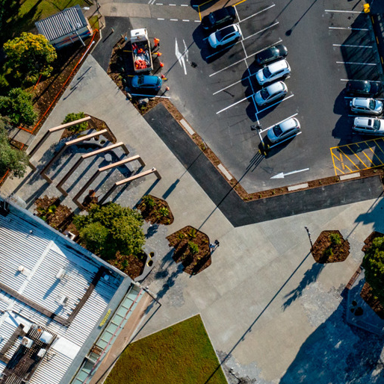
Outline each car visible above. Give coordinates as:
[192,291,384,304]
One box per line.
[201,5,238,32]
[130,76,163,95]
[252,82,289,109]
[252,43,292,68]
[253,57,292,85]
[351,116,384,134]
[347,96,384,116]
[264,118,302,144]
[207,23,244,50]
[344,79,383,99]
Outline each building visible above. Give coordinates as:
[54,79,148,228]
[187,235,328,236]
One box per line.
[35,6,99,58]
[0,195,145,384]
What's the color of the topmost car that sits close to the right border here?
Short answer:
black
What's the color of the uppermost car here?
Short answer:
black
